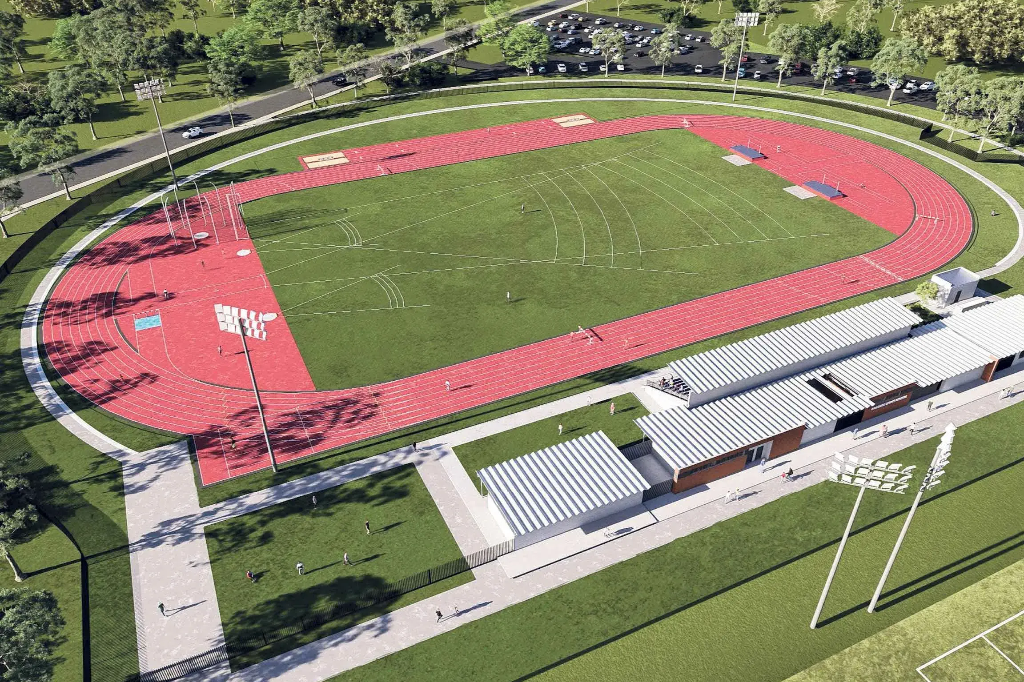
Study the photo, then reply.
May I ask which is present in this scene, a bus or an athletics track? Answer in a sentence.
This aerial view contains an athletics track.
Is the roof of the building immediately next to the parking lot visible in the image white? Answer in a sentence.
Yes, the roof of the building immediately next to the parking lot is indeed white.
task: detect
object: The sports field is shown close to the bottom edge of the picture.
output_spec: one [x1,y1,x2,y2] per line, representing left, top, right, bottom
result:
[781,559,1024,682]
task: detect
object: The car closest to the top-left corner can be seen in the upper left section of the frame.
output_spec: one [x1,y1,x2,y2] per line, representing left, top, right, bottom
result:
[182,125,203,137]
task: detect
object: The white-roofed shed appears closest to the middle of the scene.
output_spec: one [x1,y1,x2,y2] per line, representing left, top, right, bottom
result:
[475,430,650,549]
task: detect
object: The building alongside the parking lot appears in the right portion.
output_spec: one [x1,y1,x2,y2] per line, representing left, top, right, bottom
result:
[631,290,1024,492]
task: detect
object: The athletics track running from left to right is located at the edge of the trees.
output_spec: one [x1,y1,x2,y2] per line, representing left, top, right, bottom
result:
[44,113,972,442]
